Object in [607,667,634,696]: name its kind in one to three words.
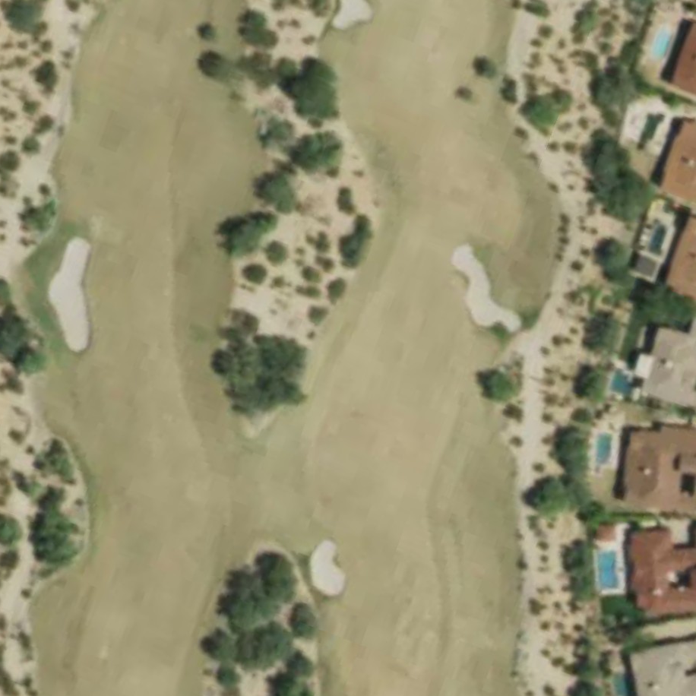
swimming pool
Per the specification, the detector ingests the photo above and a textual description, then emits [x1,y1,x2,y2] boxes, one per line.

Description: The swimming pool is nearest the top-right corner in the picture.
[645,13,684,70]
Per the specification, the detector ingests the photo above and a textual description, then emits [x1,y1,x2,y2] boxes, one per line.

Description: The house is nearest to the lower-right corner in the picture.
[632,643,696,696]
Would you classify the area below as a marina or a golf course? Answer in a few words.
golf course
